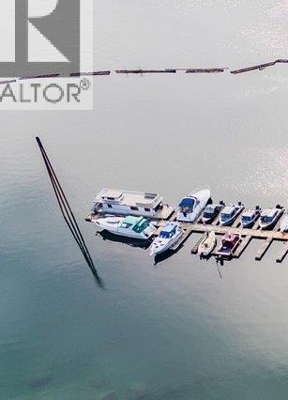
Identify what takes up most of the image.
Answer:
water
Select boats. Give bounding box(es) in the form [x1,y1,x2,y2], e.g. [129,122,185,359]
[204,201,224,223]
[242,207,264,227]
[220,202,245,225]
[177,186,210,222]
[218,231,236,259]
[90,215,162,242]
[261,204,286,230]
[92,187,178,220]
[200,231,215,257]
[149,226,190,257]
